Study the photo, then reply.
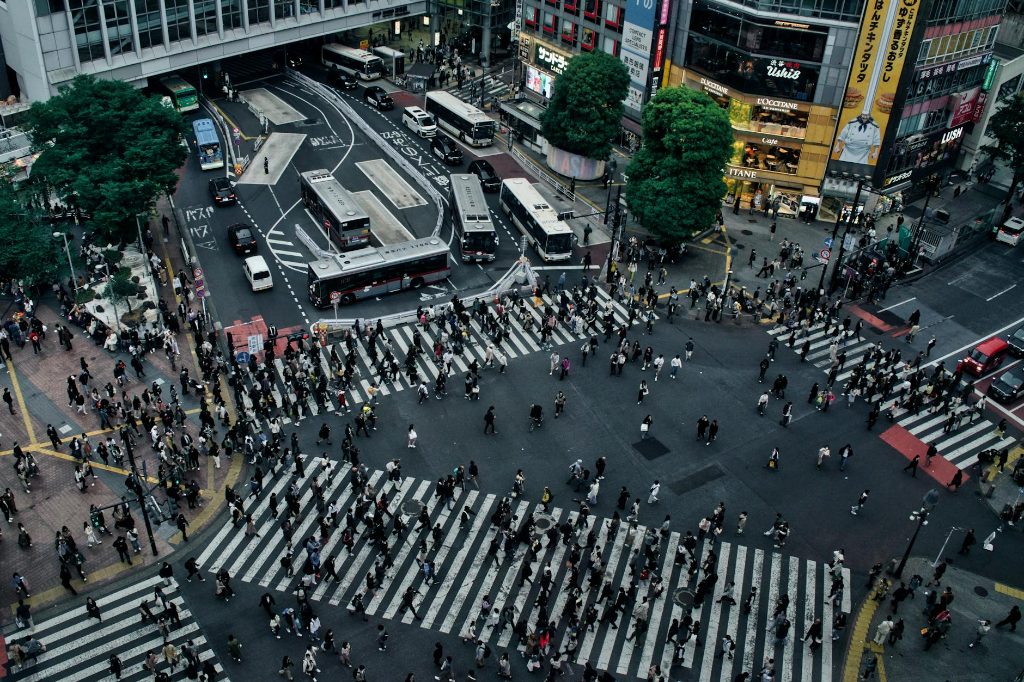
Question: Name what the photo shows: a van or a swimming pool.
van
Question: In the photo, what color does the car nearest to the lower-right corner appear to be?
black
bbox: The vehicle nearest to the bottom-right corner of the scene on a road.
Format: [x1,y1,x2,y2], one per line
[990,357,1024,401]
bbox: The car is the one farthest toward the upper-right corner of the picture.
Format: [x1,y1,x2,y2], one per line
[997,212,1024,244]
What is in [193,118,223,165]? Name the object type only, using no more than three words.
bus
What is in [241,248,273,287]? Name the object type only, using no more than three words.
van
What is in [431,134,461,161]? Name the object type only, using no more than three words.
car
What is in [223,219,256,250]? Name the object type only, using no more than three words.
car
